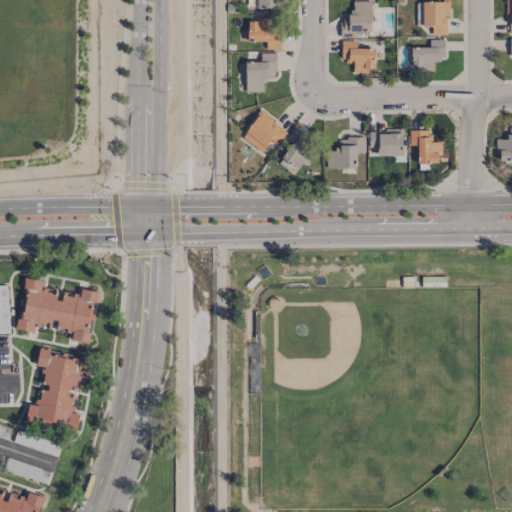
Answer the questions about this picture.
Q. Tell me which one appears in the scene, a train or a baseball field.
baseball field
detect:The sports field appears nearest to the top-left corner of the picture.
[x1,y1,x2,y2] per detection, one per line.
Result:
[0,0,79,161]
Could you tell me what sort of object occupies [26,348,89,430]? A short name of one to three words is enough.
building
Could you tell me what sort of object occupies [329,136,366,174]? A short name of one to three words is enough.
house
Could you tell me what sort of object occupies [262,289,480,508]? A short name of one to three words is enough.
baseball field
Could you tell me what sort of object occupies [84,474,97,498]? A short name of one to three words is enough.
vehicle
